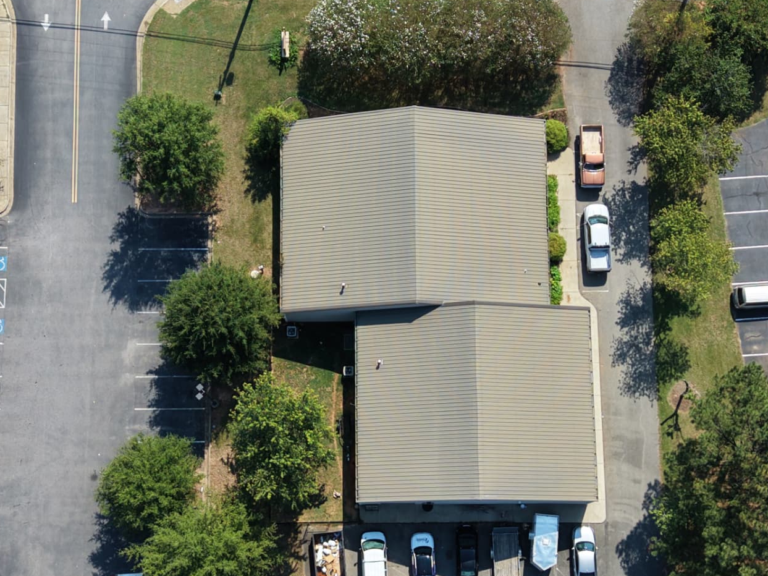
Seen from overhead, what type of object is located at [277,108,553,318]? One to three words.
building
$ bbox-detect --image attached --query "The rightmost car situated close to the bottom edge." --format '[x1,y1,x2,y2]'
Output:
[569,526,600,576]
